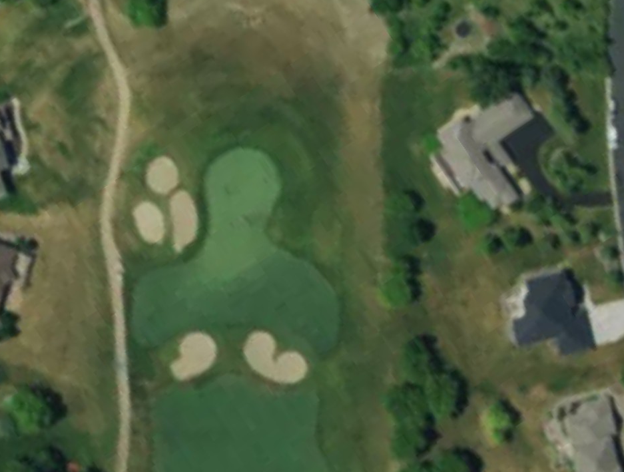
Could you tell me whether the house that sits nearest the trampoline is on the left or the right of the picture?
right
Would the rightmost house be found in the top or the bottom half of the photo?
bottom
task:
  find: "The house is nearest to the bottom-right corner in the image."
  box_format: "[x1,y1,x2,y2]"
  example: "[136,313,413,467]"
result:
[564,396,624,472]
